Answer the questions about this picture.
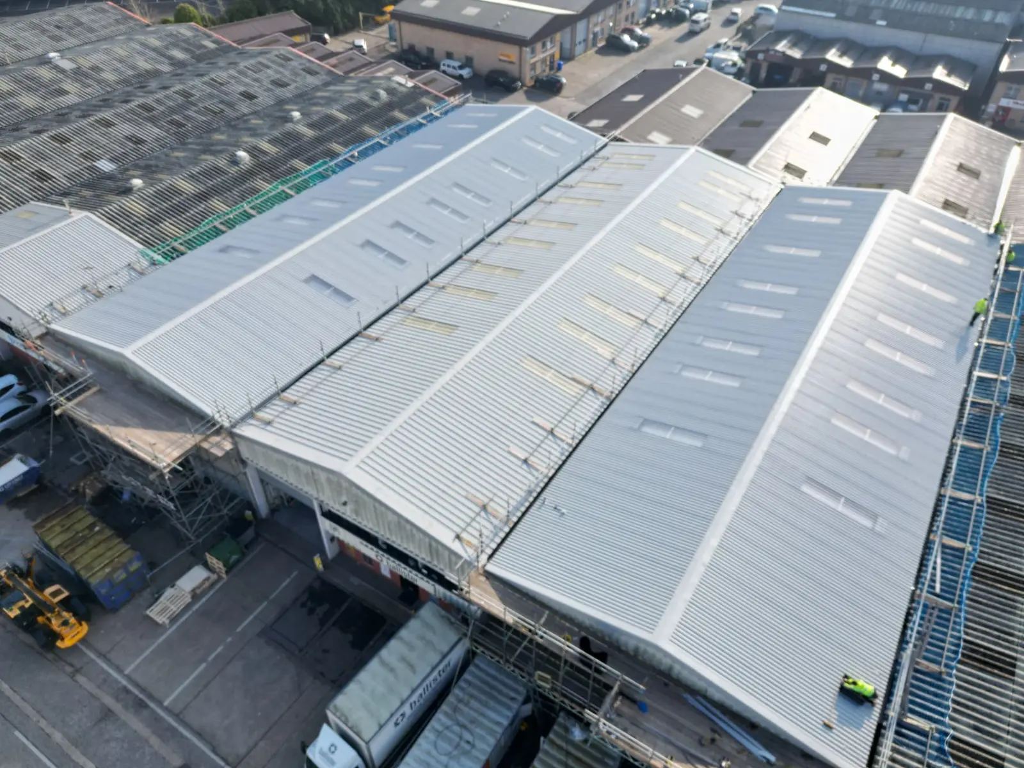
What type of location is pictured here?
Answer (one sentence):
This image shows an industrial area.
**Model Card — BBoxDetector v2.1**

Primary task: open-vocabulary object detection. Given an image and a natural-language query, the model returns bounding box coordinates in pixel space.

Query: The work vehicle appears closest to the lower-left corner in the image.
[0,560,100,659]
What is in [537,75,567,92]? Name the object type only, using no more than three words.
car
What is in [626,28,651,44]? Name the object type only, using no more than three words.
car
